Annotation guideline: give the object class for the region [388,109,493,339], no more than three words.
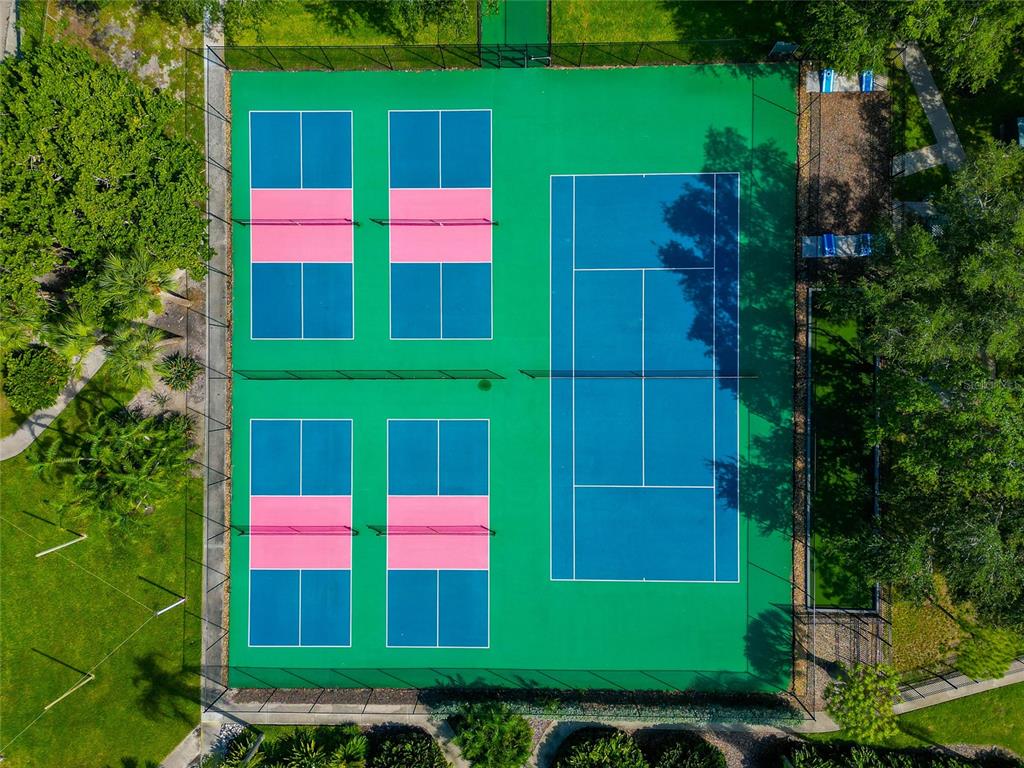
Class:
sports court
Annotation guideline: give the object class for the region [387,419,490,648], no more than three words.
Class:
sports court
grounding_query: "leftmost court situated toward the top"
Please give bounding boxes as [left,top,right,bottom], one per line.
[249,110,354,340]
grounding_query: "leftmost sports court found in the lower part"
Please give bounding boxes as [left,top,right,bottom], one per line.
[248,419,352,647]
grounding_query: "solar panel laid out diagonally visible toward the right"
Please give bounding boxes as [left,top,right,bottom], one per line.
[763,41,800,75]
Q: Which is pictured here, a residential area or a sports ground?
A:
sports ground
